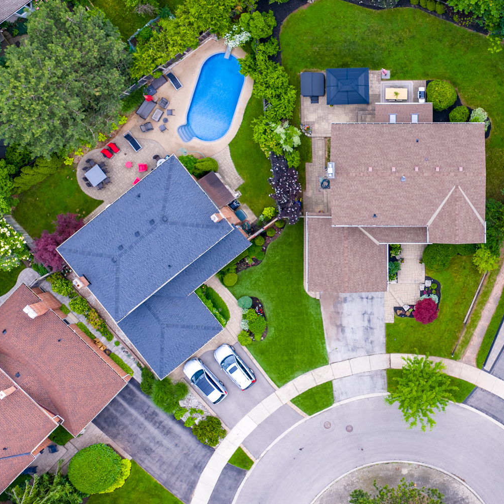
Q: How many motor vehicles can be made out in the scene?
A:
two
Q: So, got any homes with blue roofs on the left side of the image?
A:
Yes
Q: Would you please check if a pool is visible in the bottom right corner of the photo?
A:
No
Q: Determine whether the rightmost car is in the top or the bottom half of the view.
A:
bottom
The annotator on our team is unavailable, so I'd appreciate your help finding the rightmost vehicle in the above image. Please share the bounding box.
[216,343,256,393]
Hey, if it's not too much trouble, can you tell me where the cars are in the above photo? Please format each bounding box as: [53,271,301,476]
[216,343,256,393]
[184,358,228,406]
